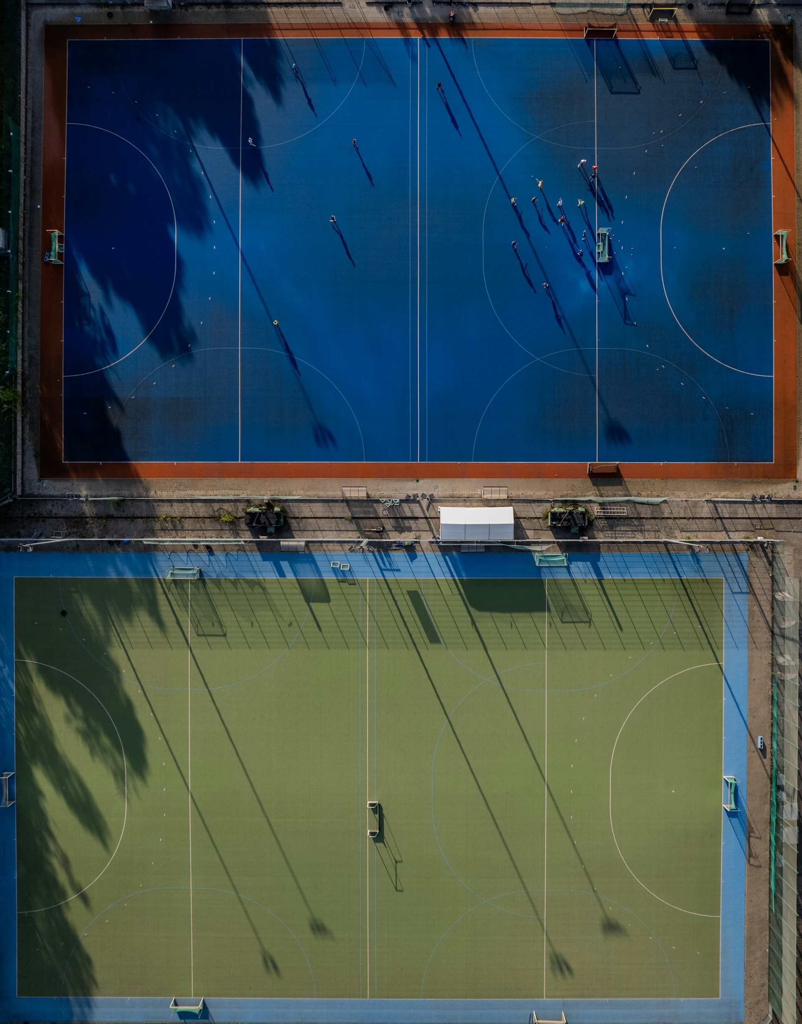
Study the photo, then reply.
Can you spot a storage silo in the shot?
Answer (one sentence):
No, I find no storage silo anywhere in the image.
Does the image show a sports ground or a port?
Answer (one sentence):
It's a sports ground.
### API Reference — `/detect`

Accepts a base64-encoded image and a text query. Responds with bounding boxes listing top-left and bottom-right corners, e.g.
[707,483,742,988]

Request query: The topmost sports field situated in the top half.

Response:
[61,37,776,465]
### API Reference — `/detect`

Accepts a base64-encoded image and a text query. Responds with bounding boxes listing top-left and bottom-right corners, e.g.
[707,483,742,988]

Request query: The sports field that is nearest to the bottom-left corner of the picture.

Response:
[13,575,726,1002]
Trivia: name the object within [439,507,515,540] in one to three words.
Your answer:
tent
